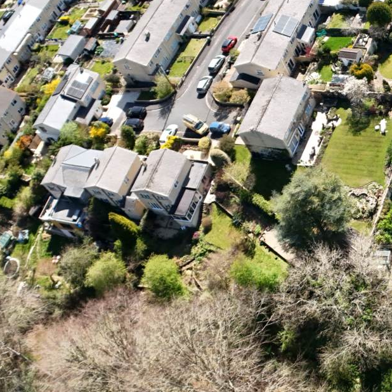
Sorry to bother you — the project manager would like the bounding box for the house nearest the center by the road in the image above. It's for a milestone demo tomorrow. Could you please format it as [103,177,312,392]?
[125,148,214,225]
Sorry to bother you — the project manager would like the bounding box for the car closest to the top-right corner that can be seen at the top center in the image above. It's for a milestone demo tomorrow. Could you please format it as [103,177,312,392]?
[220,37,239,53]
